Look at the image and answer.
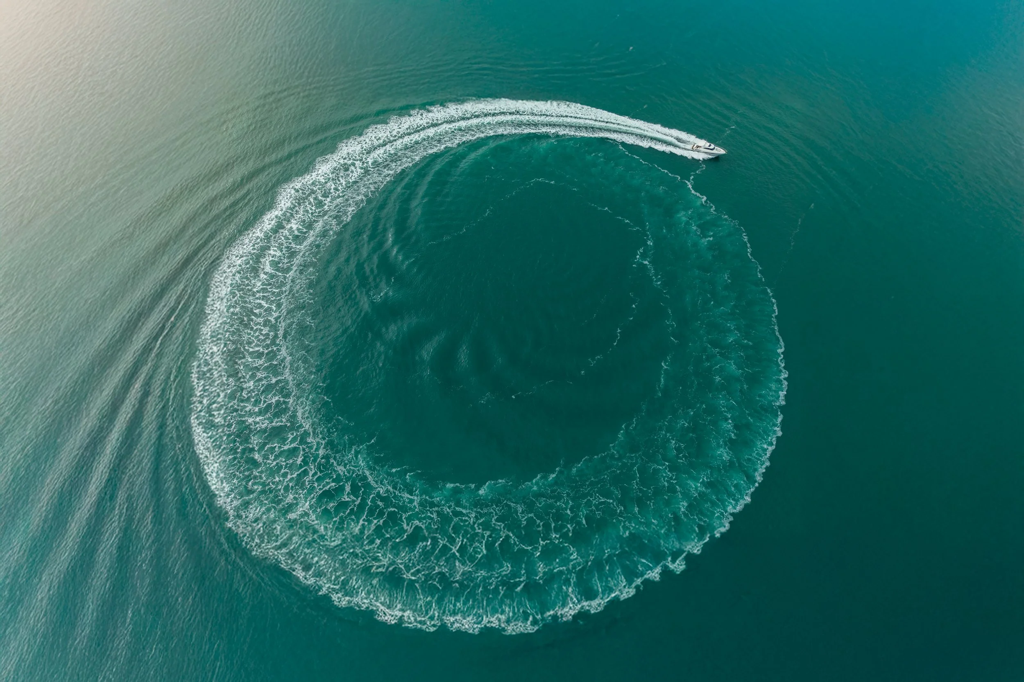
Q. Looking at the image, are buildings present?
No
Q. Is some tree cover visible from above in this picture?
No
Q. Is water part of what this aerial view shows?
Yes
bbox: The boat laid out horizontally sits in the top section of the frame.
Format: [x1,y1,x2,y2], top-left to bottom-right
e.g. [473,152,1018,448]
[691,140,727,154]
